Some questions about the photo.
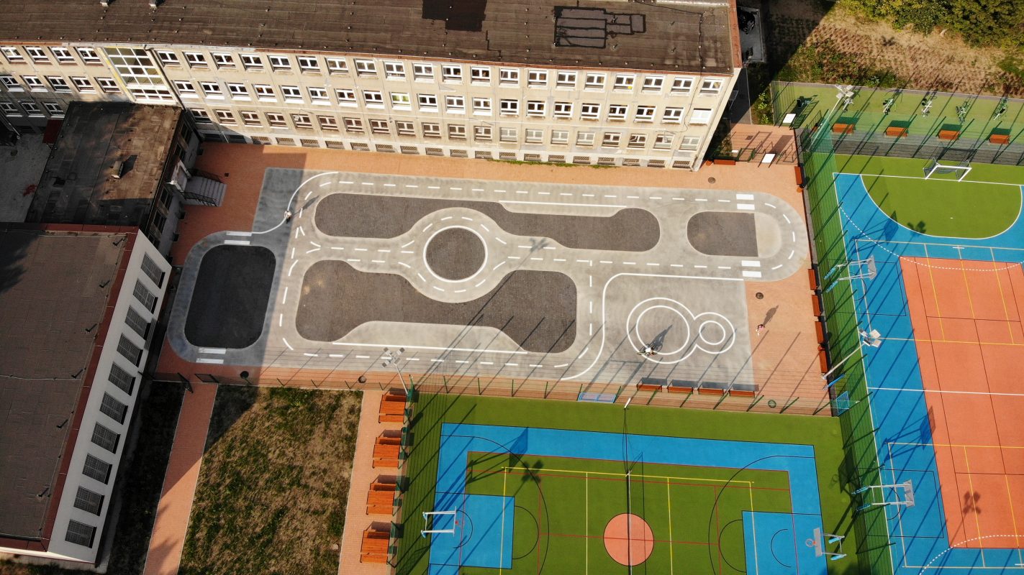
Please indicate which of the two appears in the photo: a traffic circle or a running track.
traffic circle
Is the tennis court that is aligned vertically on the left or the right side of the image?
right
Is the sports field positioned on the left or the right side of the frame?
right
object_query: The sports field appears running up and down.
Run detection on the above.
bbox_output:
[806,153,1024,575]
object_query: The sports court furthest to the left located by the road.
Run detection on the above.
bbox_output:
[395,394,871,575]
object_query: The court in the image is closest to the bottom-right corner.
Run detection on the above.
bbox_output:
[900,257,1024,551]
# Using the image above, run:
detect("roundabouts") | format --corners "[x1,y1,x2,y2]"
[409,213,503,298]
